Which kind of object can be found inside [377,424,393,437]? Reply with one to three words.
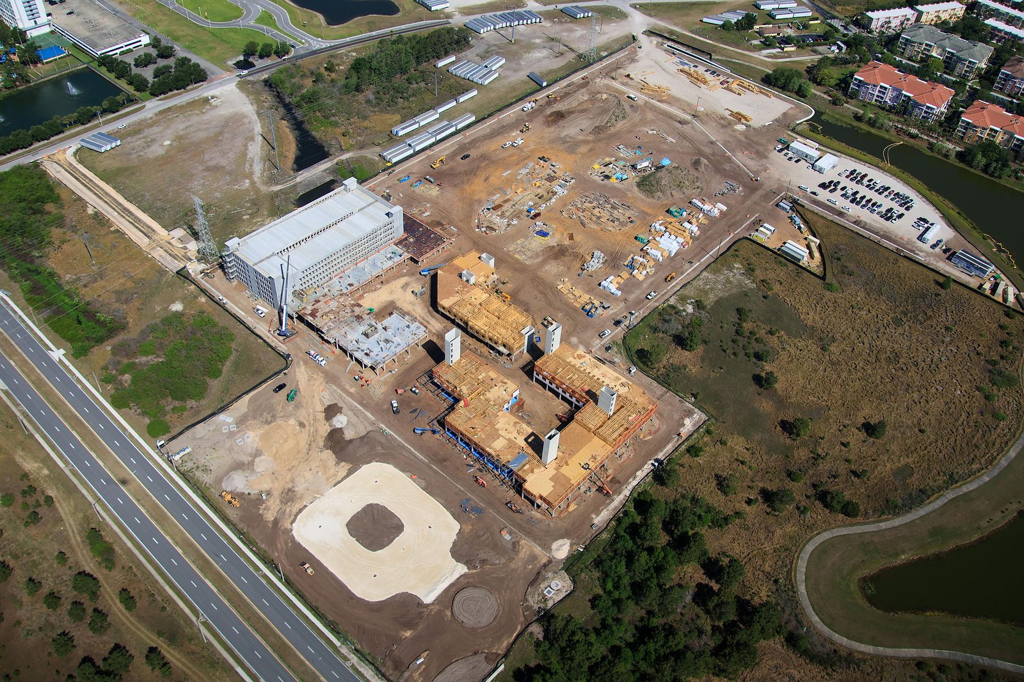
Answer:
vehicle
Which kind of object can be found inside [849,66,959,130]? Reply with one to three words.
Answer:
building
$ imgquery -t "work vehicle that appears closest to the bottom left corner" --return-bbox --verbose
[218,488,239,505]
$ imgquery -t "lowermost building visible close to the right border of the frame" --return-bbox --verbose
[952,245,997,278]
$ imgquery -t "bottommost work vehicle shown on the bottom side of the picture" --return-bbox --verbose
[295,558,314,574]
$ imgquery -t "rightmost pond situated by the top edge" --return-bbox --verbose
[291,0,400,26]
